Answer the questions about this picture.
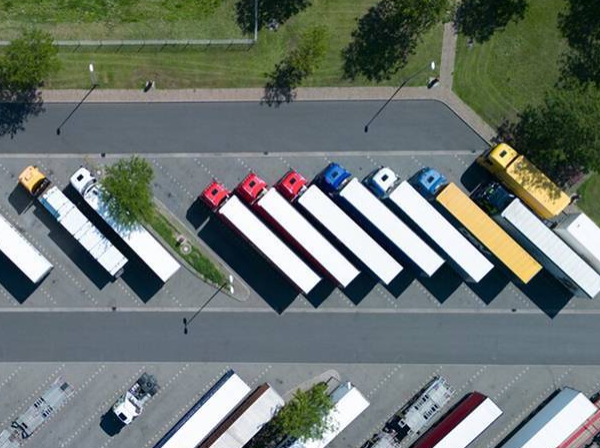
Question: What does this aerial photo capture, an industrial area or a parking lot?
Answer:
parking lot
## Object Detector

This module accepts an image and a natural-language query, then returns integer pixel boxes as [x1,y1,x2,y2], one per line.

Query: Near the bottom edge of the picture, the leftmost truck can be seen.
[109,376,157,427]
